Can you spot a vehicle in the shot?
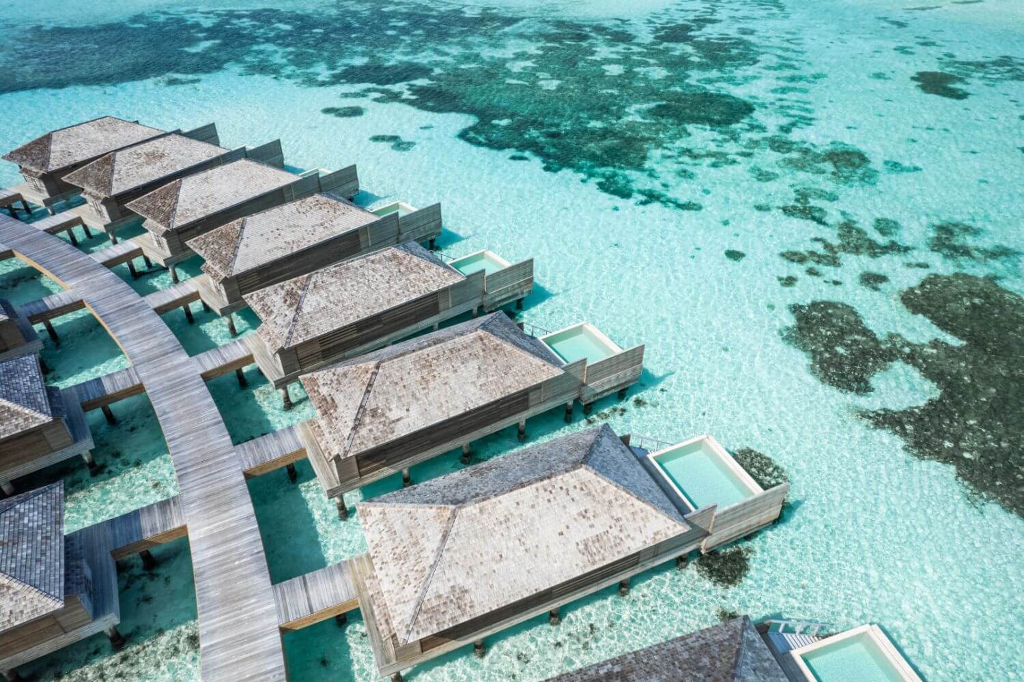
No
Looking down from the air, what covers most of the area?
water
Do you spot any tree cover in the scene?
No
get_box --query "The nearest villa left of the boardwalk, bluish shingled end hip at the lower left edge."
[0,478,119,679]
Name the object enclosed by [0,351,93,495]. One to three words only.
house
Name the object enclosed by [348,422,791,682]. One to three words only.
house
